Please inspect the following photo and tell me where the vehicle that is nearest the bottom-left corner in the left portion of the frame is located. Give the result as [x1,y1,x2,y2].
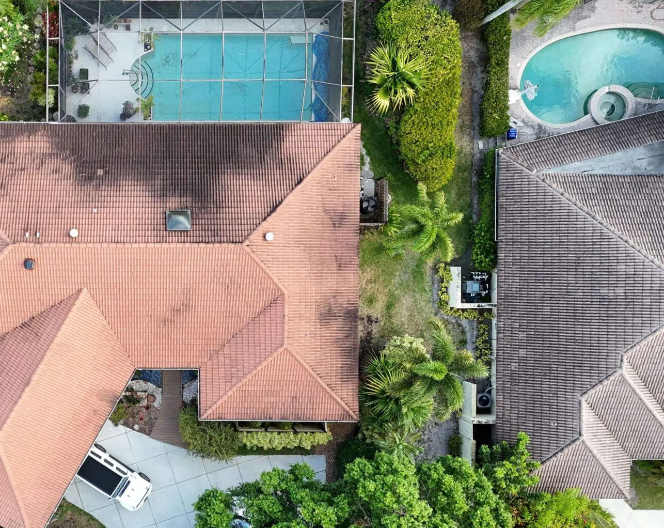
[81,442,156,508]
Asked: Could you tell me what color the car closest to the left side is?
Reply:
white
